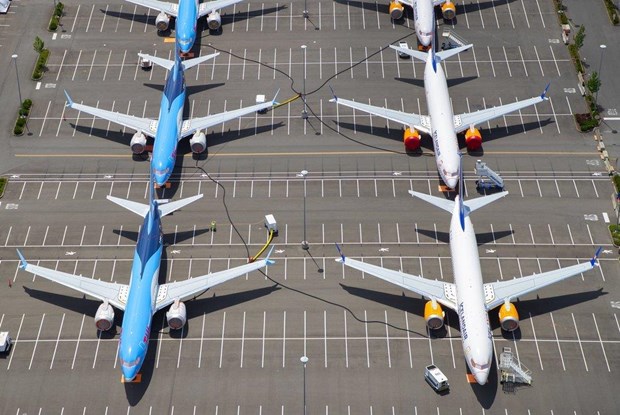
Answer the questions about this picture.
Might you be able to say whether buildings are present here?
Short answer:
No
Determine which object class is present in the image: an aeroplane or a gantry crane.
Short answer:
aeroplane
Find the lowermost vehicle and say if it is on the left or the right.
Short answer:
right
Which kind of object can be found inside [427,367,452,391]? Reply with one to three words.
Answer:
vehicle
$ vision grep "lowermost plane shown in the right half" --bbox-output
[334,150,601,385]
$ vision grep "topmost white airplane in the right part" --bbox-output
[389,0,455,46]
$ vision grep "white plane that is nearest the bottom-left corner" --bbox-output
[18,154,275,380]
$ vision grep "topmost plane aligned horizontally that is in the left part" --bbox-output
[123,0,245,53]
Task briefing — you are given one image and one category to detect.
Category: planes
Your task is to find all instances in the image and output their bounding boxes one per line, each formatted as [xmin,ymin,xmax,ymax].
[334,150,601,385]
[328,11,550,186]
[64,17,280,187]
[18,154,275,380]
[389,0,455,46]
[123,0,245,53]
